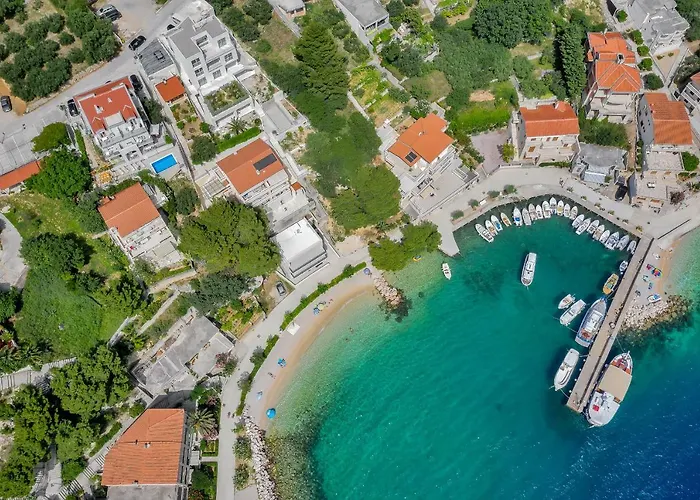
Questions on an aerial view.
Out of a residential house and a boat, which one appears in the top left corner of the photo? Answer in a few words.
residential house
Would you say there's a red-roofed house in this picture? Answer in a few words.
Yes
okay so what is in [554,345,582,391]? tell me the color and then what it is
white boat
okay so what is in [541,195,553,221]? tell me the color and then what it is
white boat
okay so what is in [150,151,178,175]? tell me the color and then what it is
blue swimming pool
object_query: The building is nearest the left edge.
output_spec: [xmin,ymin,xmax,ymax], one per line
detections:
[0,159,46,202]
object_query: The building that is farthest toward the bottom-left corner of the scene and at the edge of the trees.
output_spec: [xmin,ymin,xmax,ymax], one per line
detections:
[101,408,205,500]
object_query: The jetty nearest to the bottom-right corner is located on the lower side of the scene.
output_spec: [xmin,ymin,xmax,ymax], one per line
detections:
[564,238,657,414]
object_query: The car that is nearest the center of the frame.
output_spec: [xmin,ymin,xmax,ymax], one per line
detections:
[275,280,288,300]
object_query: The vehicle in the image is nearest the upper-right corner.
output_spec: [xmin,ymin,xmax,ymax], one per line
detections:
[612,185,630,204]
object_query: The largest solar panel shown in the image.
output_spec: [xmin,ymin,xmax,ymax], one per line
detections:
[253,154,277,172]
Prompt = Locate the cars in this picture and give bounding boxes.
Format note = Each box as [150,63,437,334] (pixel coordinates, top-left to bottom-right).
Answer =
[99,3,118,17]
[275,280,288,300]
[68,100,80,116]
[612,185,630,204]
[105,9,124,23]
[128,36,147,51]
[131,75,143,91]
[0,96,12,113]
